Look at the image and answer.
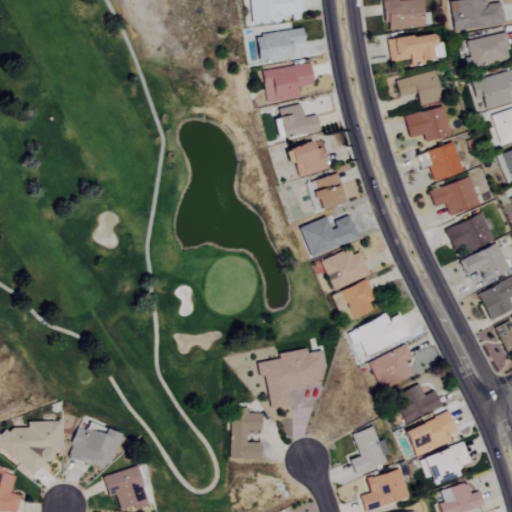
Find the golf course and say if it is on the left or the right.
left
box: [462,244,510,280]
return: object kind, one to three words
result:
house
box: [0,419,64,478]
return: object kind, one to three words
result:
house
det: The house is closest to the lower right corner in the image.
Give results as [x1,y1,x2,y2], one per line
[442,482,486,512]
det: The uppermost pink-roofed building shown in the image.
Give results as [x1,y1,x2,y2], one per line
[262,63,314,102]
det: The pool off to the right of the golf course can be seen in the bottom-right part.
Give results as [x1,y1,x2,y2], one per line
[399,437,414,458]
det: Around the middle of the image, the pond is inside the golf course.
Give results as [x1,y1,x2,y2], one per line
[176,121,287,309]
